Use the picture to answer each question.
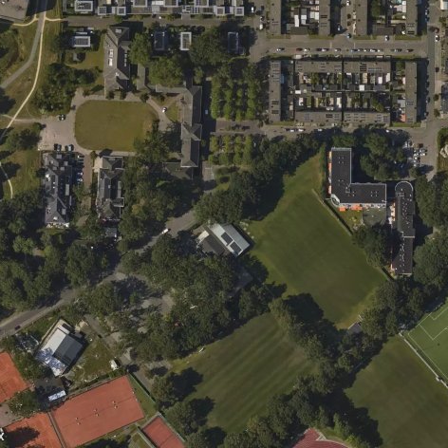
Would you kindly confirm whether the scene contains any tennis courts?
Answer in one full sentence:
Yes, the photo shows a tennis court.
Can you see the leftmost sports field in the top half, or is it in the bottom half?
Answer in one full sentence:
Seen from above, the leftmost sports field lies in the bottom half of the view.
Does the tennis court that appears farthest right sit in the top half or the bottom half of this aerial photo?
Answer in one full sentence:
The bottom half of the photo is where the tennis court that appears farthest right is.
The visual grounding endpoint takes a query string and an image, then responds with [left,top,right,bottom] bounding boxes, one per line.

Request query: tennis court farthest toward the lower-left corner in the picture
[5,412,60,448]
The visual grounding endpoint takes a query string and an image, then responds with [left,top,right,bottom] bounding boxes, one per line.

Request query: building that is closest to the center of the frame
[192,219,249,256]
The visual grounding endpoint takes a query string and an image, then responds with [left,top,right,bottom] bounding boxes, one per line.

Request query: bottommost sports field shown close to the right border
[347,339,448,448]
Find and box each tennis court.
[51,377,143,448]
[142,414,181,448]
[0,352,28,402]
[5,412,60,448]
